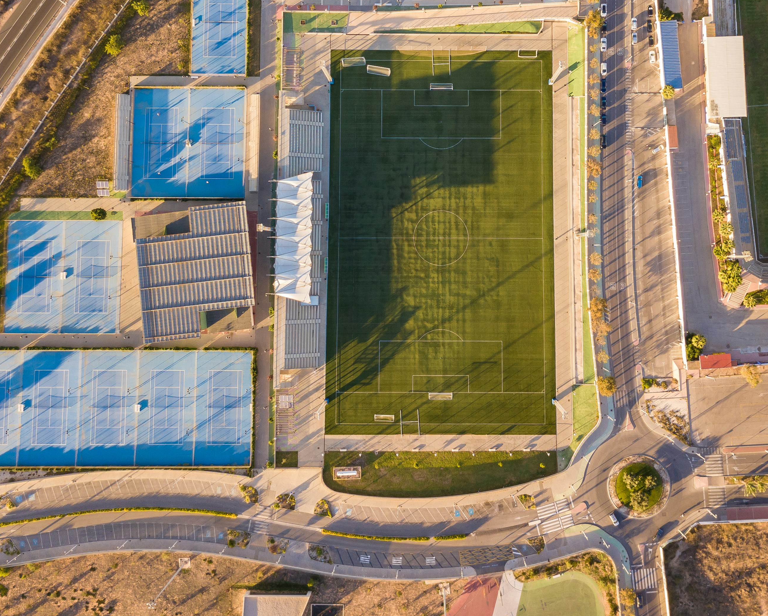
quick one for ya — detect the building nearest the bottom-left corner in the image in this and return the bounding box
[244,587,312,616]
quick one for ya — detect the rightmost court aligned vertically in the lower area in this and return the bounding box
[194,352,252,466]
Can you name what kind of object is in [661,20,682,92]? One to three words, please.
shed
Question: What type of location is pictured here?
sports ground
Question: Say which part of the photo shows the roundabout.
bottom right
